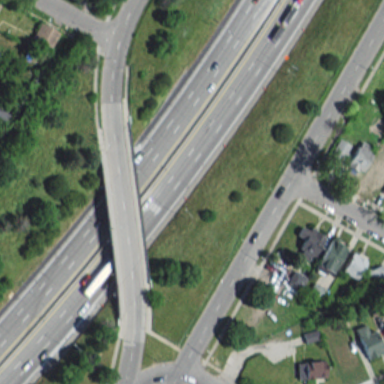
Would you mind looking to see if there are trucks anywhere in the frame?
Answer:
Yes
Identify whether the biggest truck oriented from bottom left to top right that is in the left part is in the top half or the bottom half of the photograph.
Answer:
bottom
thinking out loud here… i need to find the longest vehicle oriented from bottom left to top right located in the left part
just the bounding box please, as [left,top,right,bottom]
[83,258,116,297]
